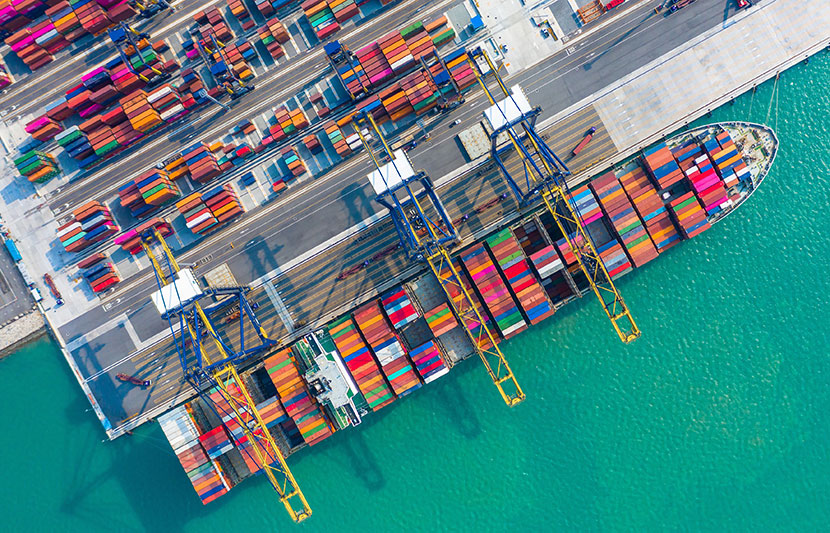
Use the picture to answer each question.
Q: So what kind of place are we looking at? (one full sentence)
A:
This looks like a port.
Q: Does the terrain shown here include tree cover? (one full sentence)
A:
No, no tree cover is visible.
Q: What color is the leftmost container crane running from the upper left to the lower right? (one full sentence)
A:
From above, the leftmost container crane running from the upper left to the lower right appears blue.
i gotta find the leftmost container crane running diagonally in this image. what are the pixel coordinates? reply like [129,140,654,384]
[104,19,171,88]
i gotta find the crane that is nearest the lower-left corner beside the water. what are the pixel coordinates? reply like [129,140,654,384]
[138,230,313,524]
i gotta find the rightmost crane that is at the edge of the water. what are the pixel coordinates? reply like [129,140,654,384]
[466,48,641,343]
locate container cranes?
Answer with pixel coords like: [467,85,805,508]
[193,32,254,100]
[323,36,375,108]
[418,47,465,114]
[138,230,313,524]
[351,113,525,407]
[466,48,641,343]
[104,19,171,88]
